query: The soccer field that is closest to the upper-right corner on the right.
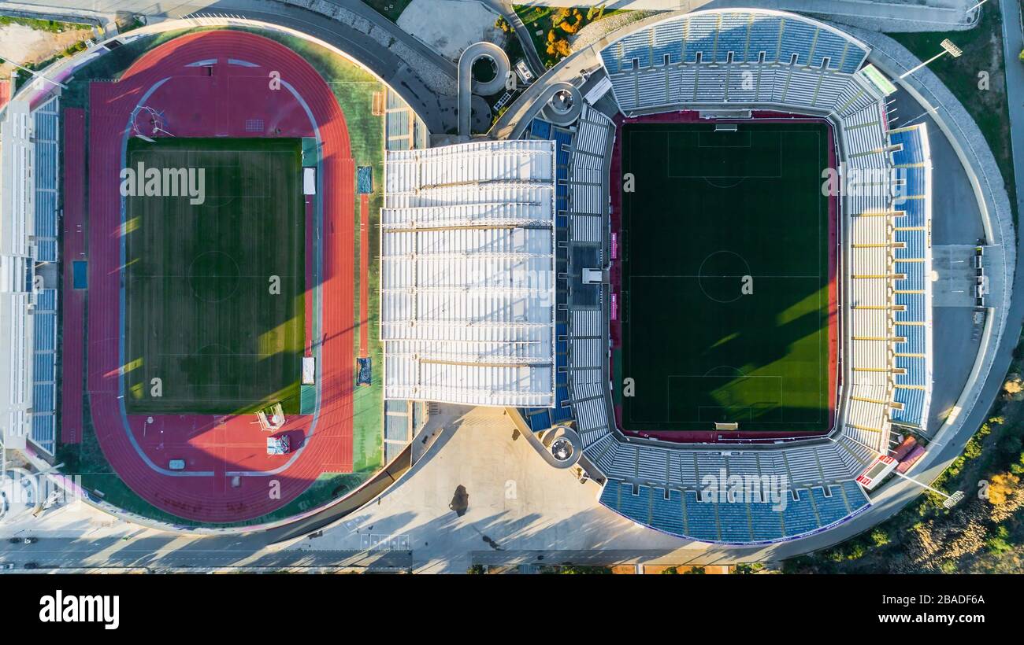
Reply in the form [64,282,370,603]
[621,122,829,431]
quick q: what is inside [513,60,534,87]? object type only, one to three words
building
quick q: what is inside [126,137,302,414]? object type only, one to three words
soccer field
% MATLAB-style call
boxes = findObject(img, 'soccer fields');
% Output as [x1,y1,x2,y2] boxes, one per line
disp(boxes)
[126,137,302,414]
[621,122,829,431]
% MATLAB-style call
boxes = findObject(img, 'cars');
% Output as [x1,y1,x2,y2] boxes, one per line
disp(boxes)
[29,538,42,544]
[25,563,38,569]
[0,563,13,569]
[8,538,21,544]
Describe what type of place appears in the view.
sports ground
